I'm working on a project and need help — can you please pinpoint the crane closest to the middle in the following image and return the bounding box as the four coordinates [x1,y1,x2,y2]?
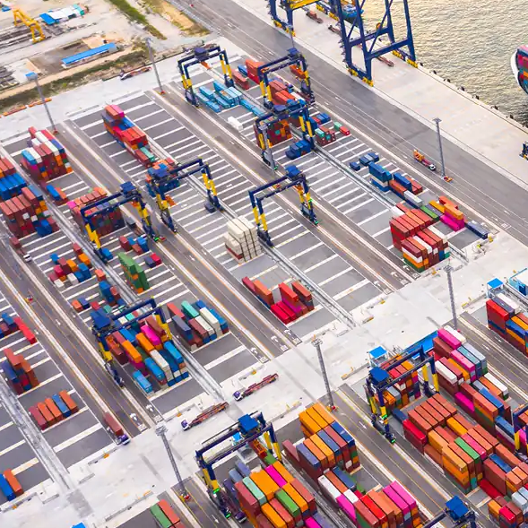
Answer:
[249,168,315,246]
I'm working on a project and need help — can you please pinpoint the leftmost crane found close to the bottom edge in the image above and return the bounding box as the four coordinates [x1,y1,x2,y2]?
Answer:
[202,417,287,519]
